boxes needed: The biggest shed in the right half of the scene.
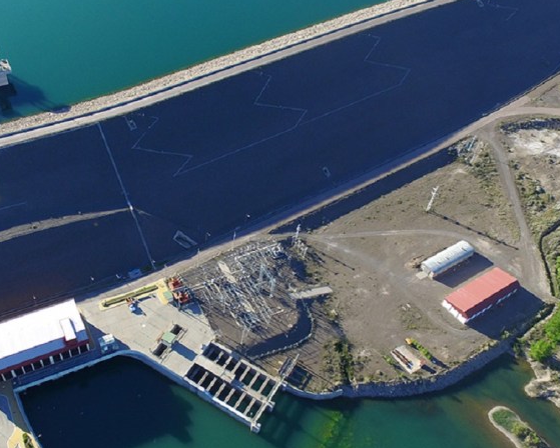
[441,267,520,324]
